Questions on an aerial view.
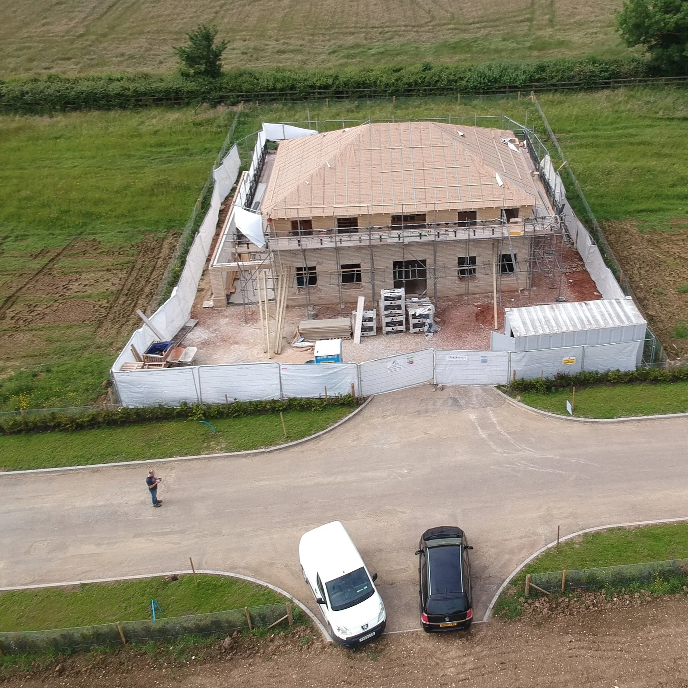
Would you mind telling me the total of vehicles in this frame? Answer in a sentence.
Altogether the scene contains 2 vehicles.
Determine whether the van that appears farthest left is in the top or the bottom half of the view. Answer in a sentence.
Seen from above, the van that appears farthest left lies in the bottom half of the view.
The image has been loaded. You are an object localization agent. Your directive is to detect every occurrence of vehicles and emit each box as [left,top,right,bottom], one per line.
[413,527,478,636]
[300,523,388,649]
